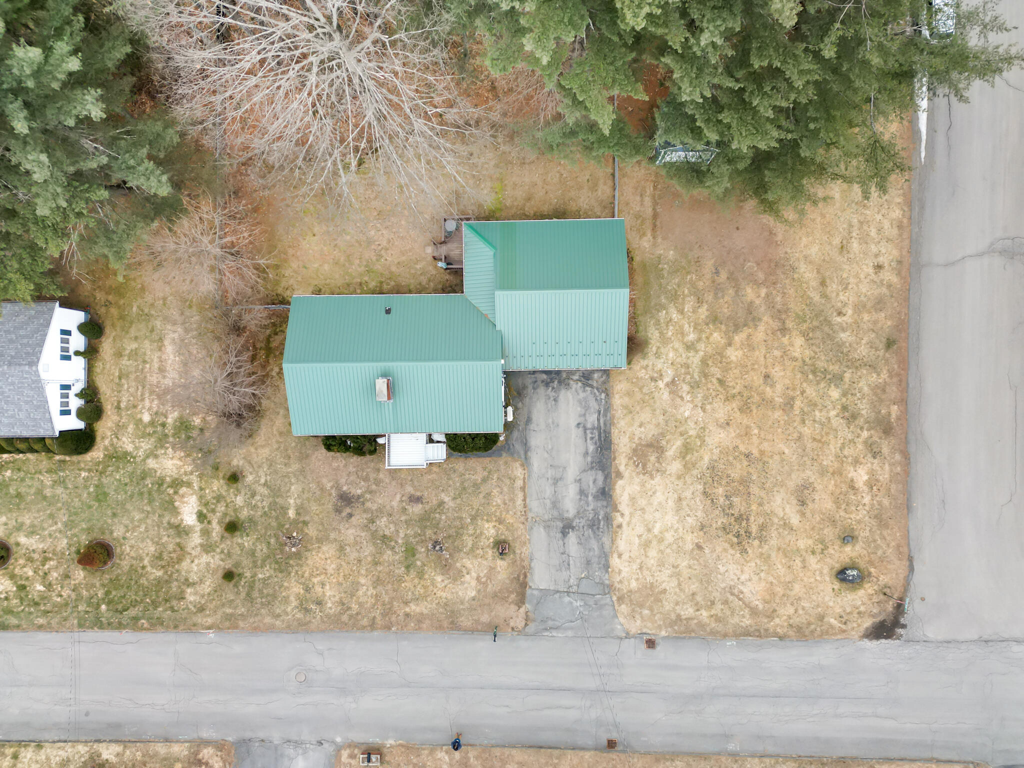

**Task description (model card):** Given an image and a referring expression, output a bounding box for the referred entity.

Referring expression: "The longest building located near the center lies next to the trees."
[283,216,629,437]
